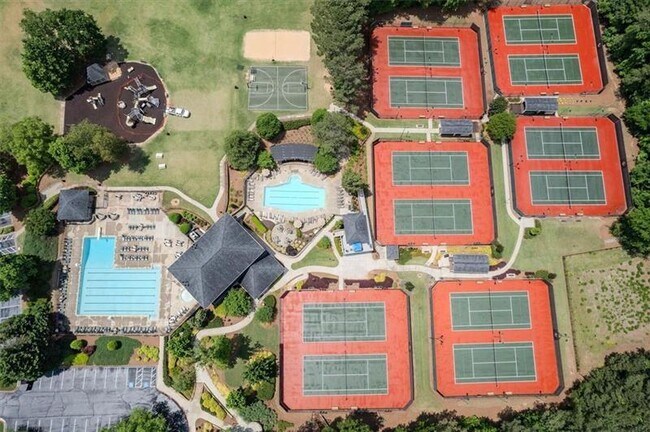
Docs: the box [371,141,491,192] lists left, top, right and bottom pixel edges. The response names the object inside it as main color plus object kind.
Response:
red tennis court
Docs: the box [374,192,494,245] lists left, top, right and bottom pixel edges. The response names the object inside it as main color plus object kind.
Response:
red tennis court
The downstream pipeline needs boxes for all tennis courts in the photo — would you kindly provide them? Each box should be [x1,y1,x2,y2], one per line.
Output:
[369,70,484,119]
[281,290,408,349]
[428,279,554,337]
[430,335,560,396]
[488,48,603,96]
[505,116,621,165]
[281,347,411,410]
[508,165,628,216]
[374,192,494,245]
[368,25,481,72]
[371,141,491,192]
[484,4,596,49]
